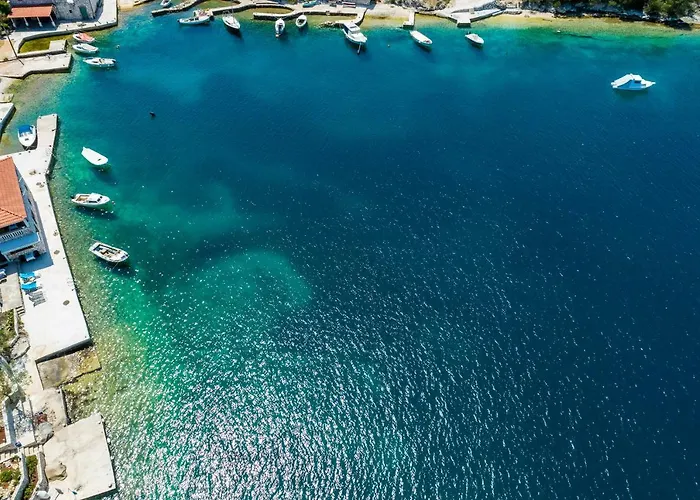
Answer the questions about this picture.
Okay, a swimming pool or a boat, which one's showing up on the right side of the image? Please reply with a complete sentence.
There is a boat on the right side of the image.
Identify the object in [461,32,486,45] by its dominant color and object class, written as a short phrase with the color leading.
white boat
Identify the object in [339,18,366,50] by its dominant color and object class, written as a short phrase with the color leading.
white boat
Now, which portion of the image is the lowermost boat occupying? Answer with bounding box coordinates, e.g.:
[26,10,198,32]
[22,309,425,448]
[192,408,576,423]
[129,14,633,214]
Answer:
[88,232,129,270]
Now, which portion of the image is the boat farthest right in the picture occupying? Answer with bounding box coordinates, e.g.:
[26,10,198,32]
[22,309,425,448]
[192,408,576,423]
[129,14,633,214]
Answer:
[607,73,667,91]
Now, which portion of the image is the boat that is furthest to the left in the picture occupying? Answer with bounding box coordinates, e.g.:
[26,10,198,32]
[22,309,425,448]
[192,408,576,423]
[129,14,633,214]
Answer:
[16,121,35,146]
